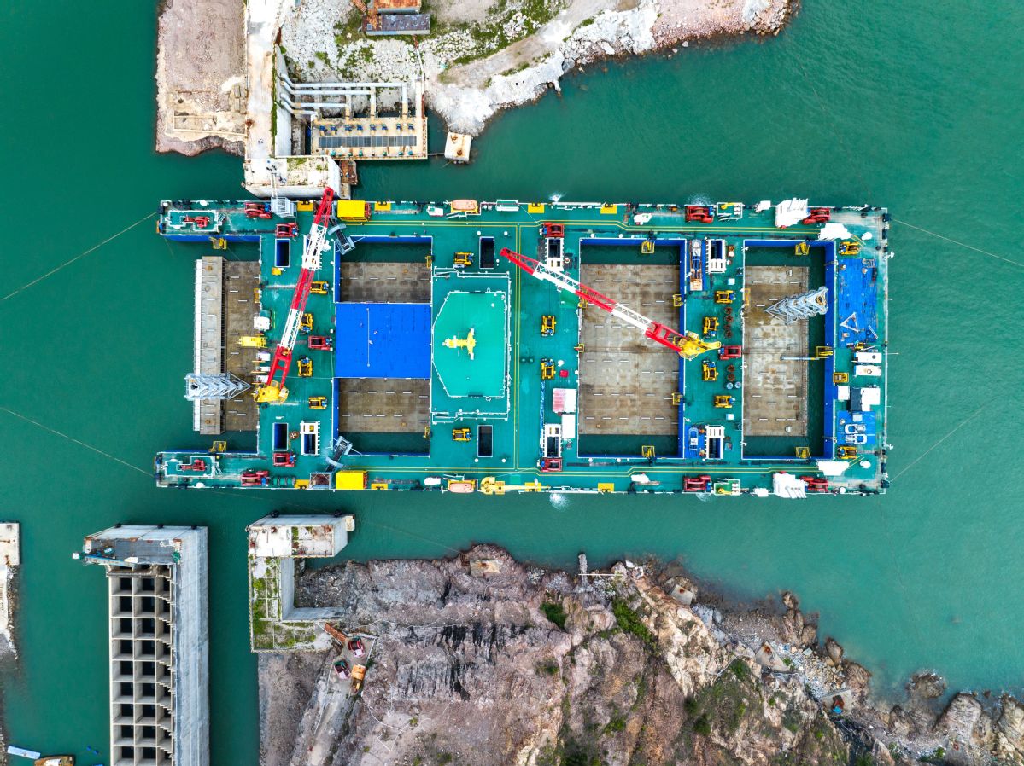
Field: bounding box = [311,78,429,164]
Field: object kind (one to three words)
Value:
building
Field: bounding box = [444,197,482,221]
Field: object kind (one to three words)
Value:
boat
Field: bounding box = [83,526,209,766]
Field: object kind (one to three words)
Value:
pier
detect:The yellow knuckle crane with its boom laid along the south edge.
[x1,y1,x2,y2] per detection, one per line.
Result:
[479,477,553,496]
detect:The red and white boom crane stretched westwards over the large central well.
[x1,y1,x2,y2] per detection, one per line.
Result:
[497,246,721,360]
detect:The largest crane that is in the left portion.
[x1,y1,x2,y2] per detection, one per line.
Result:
[254,184,334,407]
